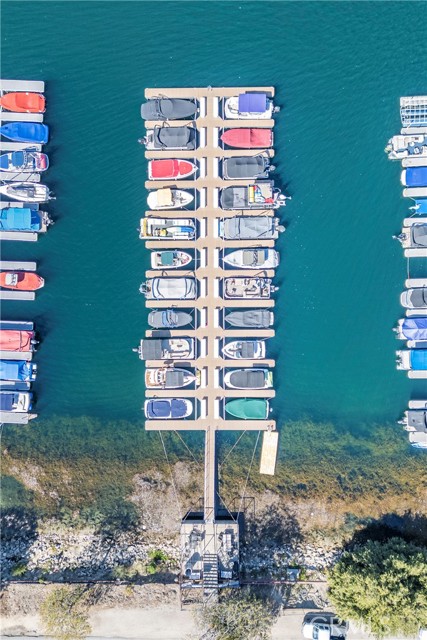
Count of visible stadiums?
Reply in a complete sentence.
The photo contains no stadiums.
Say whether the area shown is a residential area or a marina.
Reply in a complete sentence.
The picture captures a marina.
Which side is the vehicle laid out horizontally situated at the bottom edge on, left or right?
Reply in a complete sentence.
You can find the vehicle laid out horizontally situated at the bottom edge on the right side of the picture.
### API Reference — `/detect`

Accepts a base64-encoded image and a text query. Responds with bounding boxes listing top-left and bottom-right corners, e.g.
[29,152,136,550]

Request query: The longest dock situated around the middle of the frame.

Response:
[145,88,274,431]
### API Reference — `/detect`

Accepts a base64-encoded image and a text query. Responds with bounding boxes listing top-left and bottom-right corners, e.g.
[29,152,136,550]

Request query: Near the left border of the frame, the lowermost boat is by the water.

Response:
[0,390,39,412]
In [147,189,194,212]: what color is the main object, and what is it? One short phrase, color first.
white boat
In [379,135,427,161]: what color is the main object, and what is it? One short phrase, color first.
white boat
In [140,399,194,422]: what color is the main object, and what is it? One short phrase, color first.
blue boat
